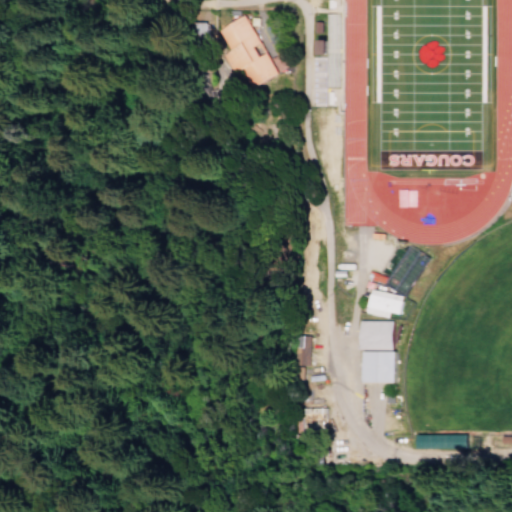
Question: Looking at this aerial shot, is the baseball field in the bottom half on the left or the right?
right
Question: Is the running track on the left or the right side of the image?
right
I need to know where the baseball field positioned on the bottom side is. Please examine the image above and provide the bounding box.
[406,224,512,434]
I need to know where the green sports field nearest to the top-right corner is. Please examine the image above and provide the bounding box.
[368,0,496,178]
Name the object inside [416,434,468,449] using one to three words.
barn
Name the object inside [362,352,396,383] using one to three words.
building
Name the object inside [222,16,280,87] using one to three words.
house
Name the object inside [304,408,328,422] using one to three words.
shed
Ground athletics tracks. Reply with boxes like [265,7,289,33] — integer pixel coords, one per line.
[346,0,512,247]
